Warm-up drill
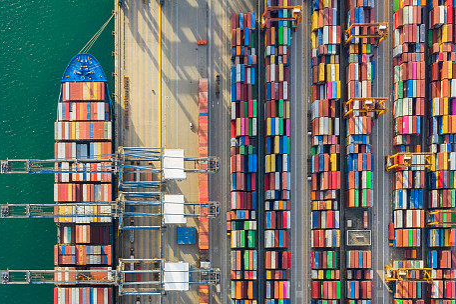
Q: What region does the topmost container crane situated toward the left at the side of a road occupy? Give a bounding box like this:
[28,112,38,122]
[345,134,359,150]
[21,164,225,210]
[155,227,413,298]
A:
[0,148,222,195]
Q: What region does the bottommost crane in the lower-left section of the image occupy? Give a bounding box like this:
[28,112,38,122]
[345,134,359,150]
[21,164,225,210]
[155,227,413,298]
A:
[0,258,221,293]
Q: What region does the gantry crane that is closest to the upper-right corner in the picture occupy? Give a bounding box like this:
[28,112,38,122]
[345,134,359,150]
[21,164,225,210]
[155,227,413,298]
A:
[340,23,389,49]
